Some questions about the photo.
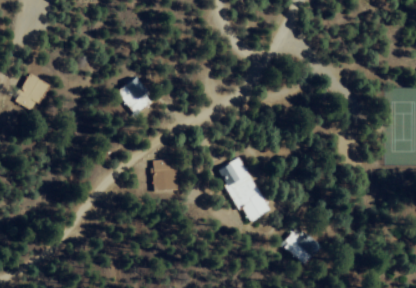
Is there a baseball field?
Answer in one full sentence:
No, I find no baseball field anywhere in the image.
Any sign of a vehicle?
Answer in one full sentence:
No, the frame has no vehicle in it.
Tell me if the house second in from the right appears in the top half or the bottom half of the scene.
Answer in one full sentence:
The house second in from the right sits in the bottom half of the picture.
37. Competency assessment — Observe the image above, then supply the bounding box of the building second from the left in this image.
[119,78,152,112]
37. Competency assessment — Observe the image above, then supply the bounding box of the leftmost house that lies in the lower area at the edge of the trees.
[151,160,178,193]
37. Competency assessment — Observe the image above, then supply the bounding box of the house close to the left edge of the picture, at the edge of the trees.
[15,74,50,110]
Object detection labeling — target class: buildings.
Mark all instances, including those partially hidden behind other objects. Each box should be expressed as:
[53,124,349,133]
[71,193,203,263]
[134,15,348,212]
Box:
[15,74,50,110]
[220,158,270,220]
[119,78,152,112]
[151,160,178,193]
[282,231,319,264]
